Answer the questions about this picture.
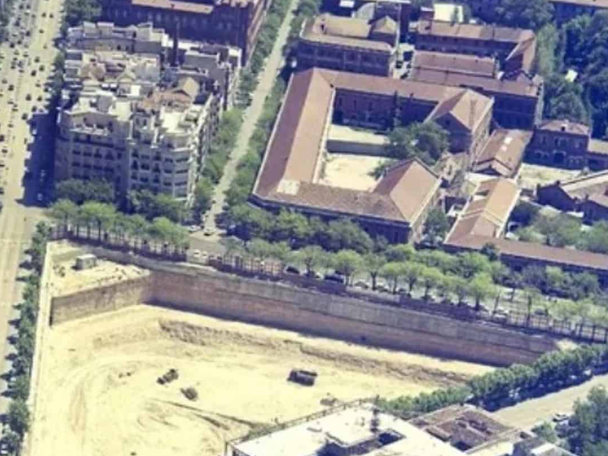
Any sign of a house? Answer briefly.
Yes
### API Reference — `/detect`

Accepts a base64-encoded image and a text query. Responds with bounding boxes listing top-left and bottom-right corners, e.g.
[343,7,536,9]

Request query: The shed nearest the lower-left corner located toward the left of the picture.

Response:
[74,252,99,269]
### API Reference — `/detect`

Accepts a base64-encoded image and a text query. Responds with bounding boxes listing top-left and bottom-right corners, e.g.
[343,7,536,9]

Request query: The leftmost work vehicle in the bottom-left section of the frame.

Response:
[146,362,181,380]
